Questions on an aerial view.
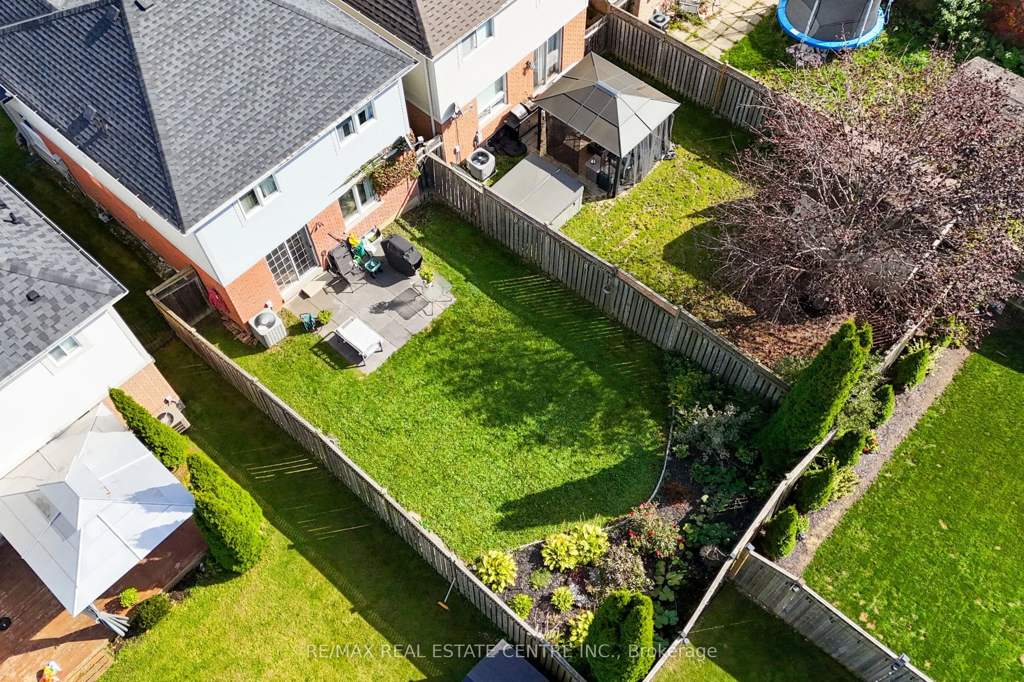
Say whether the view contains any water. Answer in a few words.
No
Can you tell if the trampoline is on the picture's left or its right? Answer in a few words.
right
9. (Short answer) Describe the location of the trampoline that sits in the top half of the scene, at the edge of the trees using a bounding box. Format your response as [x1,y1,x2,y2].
[770,0,892,63]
